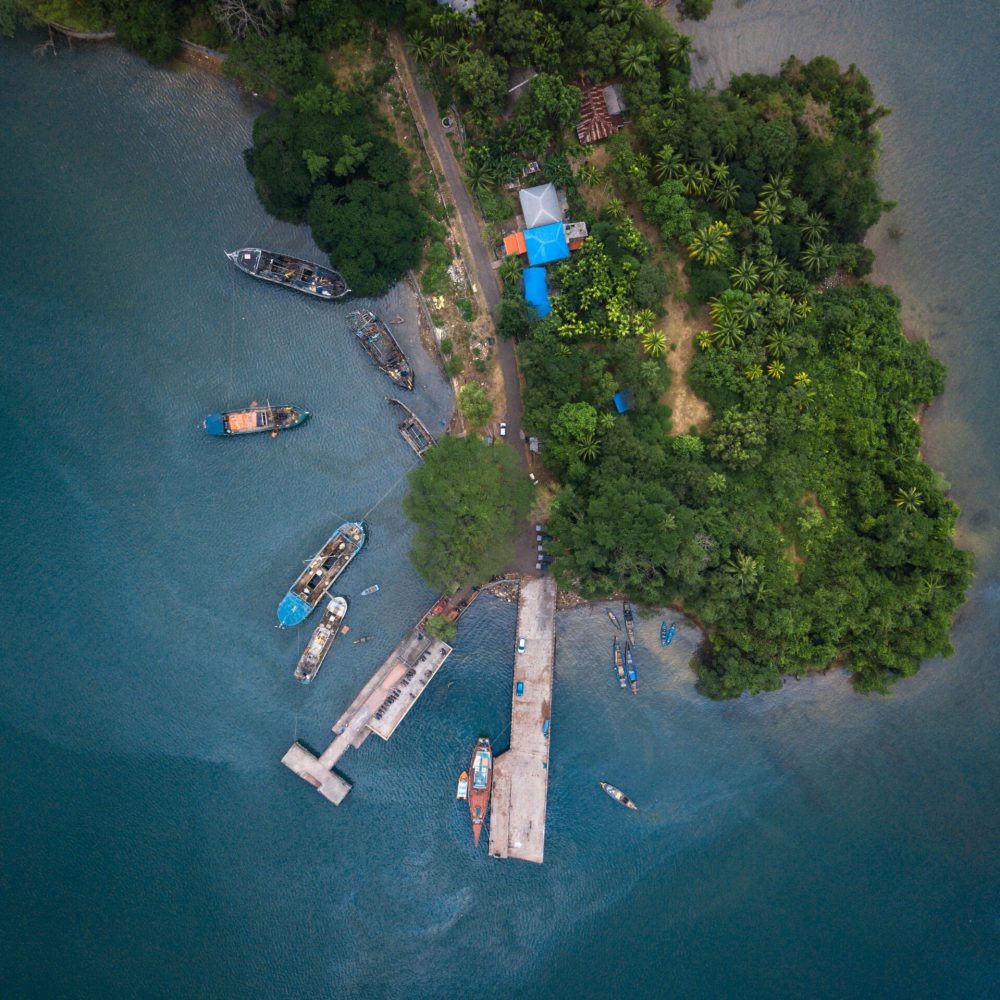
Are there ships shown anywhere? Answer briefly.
Yes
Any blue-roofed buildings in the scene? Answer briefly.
Yes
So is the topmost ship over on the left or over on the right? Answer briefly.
left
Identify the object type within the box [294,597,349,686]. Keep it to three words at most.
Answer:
boat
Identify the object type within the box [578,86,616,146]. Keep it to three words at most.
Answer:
house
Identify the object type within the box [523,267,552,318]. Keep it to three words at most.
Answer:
shed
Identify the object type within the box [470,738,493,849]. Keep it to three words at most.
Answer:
ship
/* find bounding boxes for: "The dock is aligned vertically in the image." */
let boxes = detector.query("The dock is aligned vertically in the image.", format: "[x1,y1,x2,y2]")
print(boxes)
[489,576,557,862]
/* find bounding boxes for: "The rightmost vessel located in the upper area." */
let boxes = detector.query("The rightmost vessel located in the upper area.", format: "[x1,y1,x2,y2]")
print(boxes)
[351,306,413,390]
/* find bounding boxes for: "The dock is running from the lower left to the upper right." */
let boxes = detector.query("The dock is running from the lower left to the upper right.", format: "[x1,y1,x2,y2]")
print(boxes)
[281,583,483,805]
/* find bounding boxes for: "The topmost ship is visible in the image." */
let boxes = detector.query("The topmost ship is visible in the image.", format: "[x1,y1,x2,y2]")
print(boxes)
[224,249,351,300]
